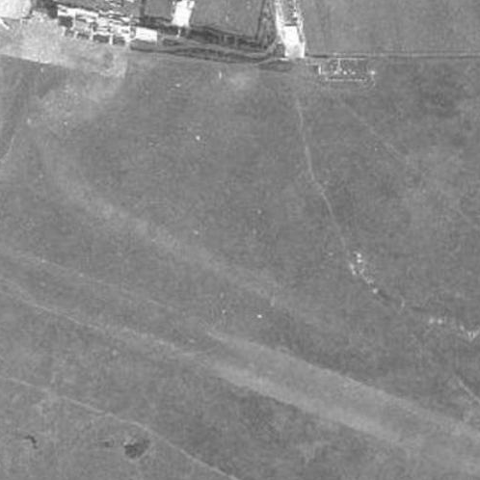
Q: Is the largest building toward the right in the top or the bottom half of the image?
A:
top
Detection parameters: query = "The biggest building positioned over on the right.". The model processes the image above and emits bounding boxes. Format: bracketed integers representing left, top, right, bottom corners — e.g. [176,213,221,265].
[283,25,305,58]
